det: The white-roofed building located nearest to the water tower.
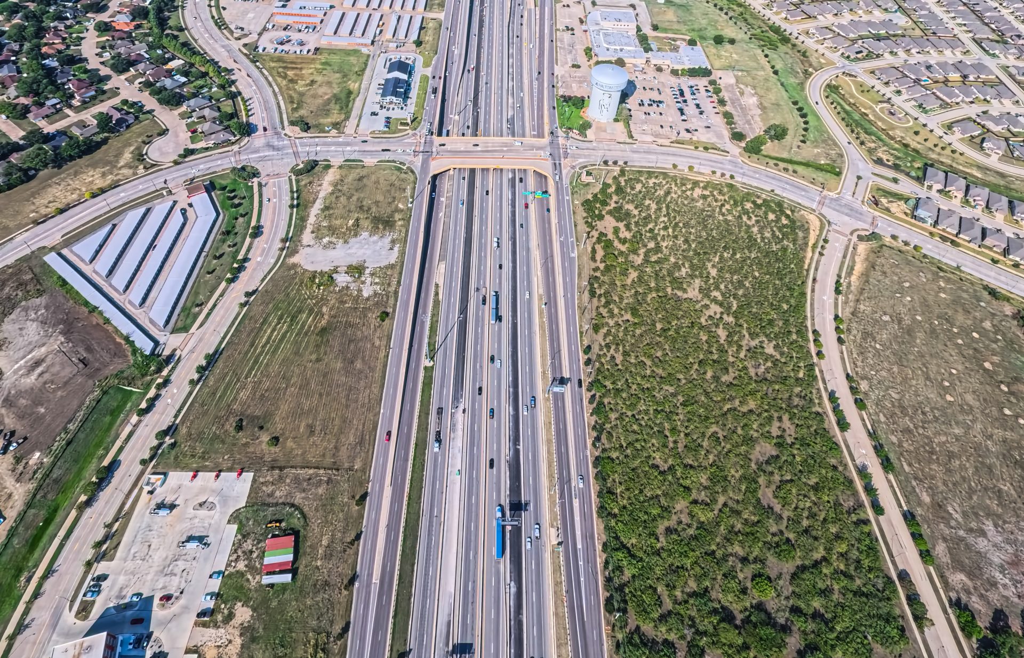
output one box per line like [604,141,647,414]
[581,9,710,73]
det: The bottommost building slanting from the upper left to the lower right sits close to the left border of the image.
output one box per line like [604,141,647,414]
[44,252,155,357]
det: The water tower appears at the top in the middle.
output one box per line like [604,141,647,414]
[588,66,629,123]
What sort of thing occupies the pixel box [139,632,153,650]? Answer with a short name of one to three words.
vehicle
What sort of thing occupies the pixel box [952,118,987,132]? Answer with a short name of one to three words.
house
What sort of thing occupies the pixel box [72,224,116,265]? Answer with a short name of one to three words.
building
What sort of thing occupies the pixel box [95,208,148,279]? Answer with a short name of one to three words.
building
